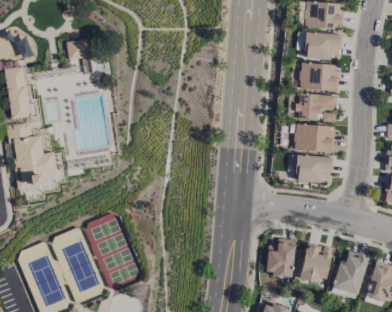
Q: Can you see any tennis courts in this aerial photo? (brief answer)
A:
Yes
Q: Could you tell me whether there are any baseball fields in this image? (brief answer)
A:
No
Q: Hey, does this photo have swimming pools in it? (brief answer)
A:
Yes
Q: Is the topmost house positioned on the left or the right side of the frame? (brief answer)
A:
right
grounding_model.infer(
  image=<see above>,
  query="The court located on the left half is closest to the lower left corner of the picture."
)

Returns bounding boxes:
[19,243,70,312]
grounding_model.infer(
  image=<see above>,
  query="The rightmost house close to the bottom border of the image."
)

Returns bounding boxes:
[364,260,392,302]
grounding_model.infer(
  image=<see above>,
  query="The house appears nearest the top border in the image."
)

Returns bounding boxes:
[304,2,344,30]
